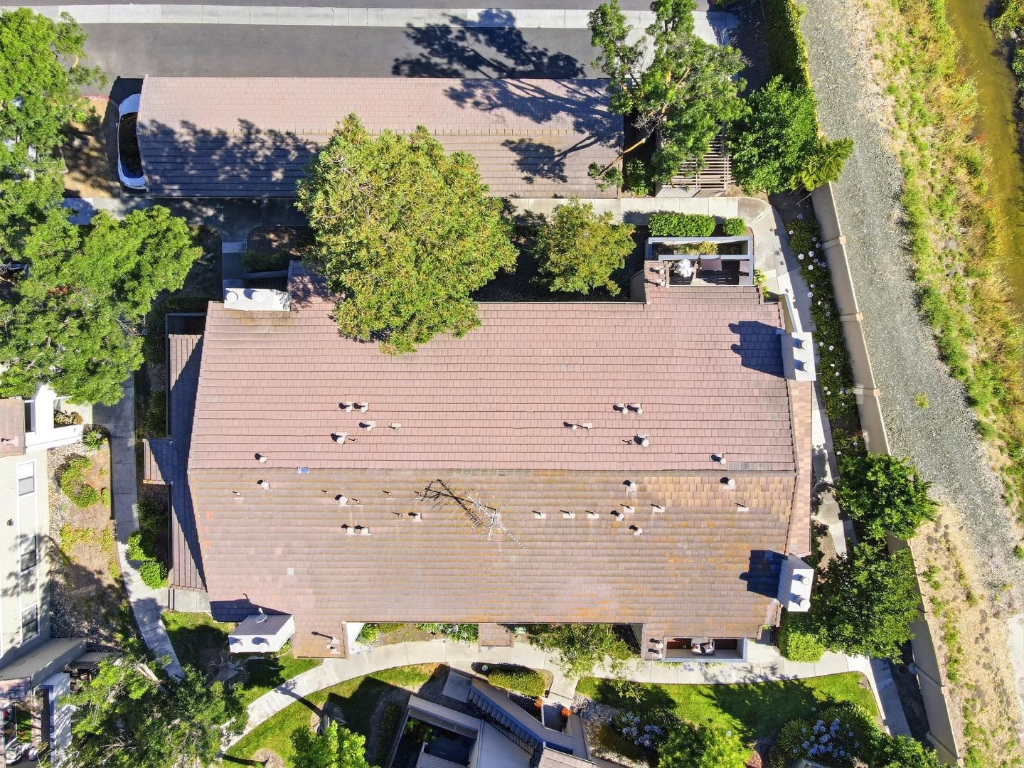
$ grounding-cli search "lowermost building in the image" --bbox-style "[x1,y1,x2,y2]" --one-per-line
[389,670,599,768]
